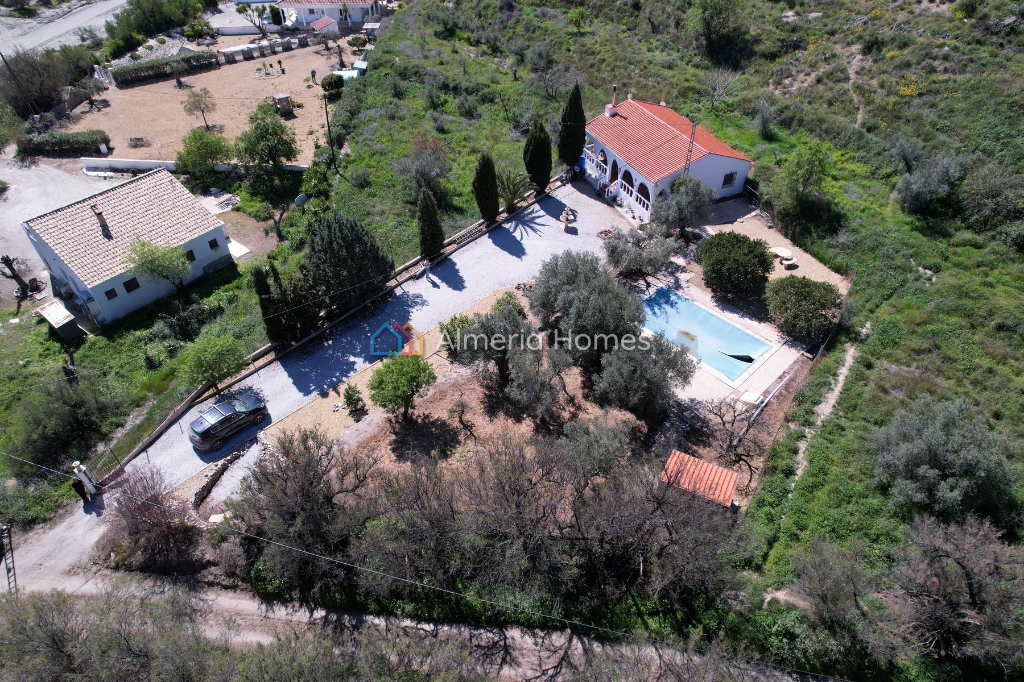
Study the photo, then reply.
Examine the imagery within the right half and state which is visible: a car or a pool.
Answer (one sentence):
Looking within the right half, you will find a pool.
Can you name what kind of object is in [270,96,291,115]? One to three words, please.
shed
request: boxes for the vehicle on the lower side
[185,394,269,450]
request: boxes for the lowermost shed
[662,447,743,519]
